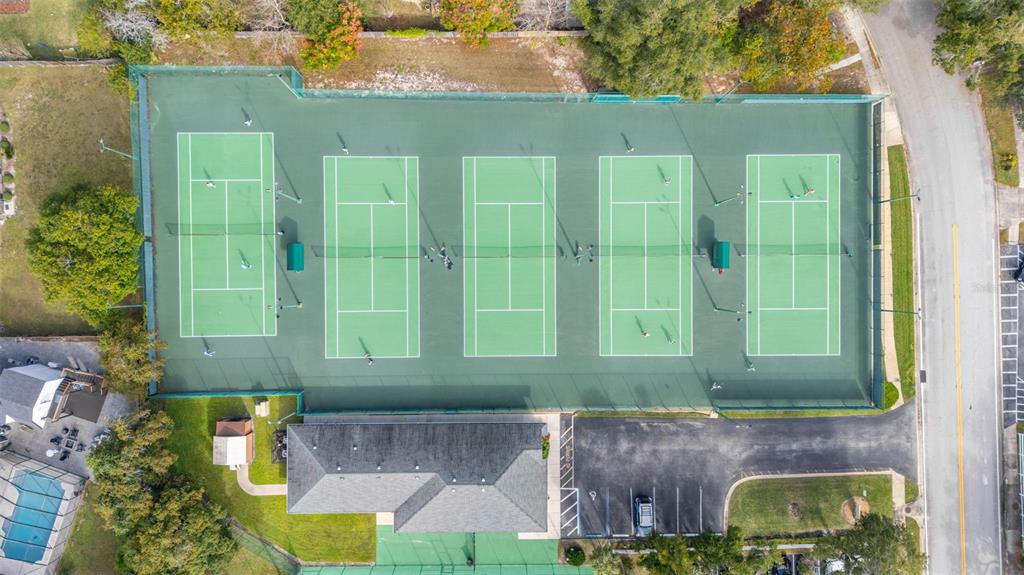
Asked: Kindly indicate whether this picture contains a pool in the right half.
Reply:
No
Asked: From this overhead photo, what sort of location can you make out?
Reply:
sports ground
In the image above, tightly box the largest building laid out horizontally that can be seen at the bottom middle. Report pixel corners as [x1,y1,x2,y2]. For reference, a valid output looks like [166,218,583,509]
[287,410,547,533]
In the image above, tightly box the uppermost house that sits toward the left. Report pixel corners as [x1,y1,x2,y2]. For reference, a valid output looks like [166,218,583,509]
[0,364,65,428]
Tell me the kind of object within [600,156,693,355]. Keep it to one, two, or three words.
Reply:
tennis court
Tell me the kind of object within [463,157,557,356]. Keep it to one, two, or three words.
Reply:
tennis court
